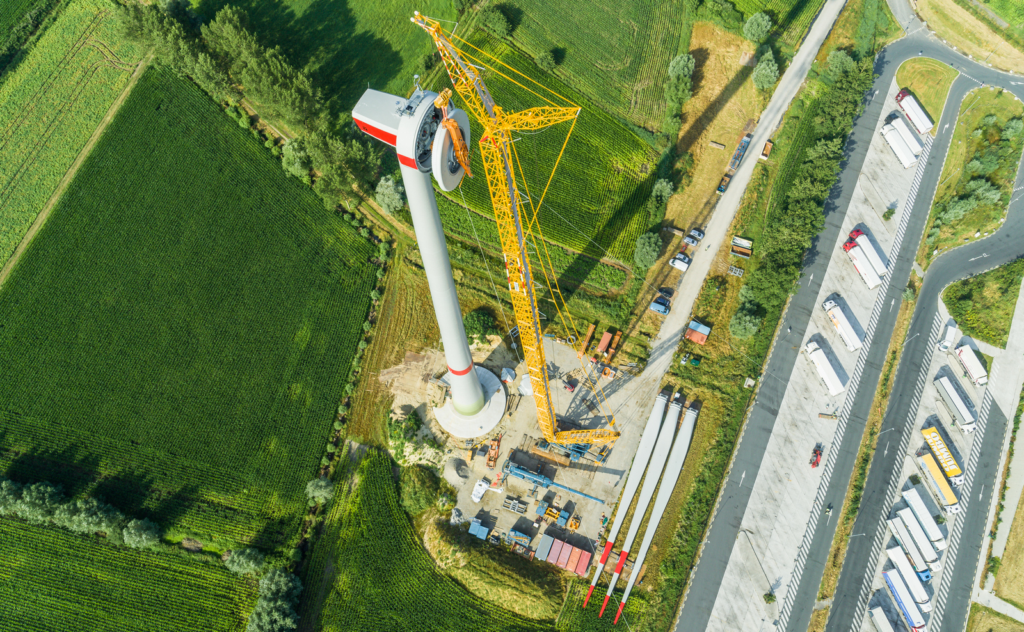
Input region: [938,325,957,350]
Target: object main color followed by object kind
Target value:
white vehicle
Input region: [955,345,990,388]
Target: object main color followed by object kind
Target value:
white truck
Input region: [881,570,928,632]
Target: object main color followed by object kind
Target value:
white truck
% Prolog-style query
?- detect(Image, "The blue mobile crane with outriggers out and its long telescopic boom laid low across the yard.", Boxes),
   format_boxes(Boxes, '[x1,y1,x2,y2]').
[505,454,607,503]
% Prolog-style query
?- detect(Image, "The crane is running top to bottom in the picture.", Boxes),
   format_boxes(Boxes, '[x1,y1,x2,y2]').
[409,4,621,472]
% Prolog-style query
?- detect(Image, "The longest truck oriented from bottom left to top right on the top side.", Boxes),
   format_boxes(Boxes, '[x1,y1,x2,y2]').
[727,130,755,169]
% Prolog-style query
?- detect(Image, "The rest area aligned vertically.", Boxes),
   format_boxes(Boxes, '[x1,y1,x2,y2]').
[675,0,1024,632]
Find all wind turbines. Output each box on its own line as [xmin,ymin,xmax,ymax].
[340,62,487,415]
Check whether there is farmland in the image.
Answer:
Yes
